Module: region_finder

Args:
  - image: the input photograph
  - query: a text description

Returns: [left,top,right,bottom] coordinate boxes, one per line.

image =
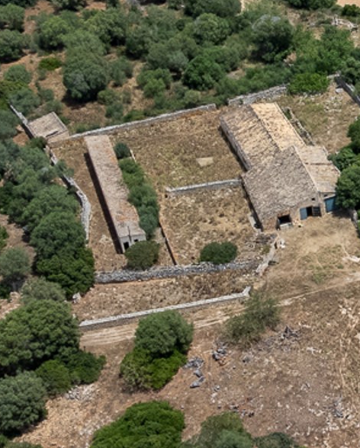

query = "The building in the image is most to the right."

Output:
[221,100,349,232]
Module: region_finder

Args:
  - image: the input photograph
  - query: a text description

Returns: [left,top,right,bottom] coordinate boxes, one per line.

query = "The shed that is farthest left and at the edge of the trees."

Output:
[26,116,76,153]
